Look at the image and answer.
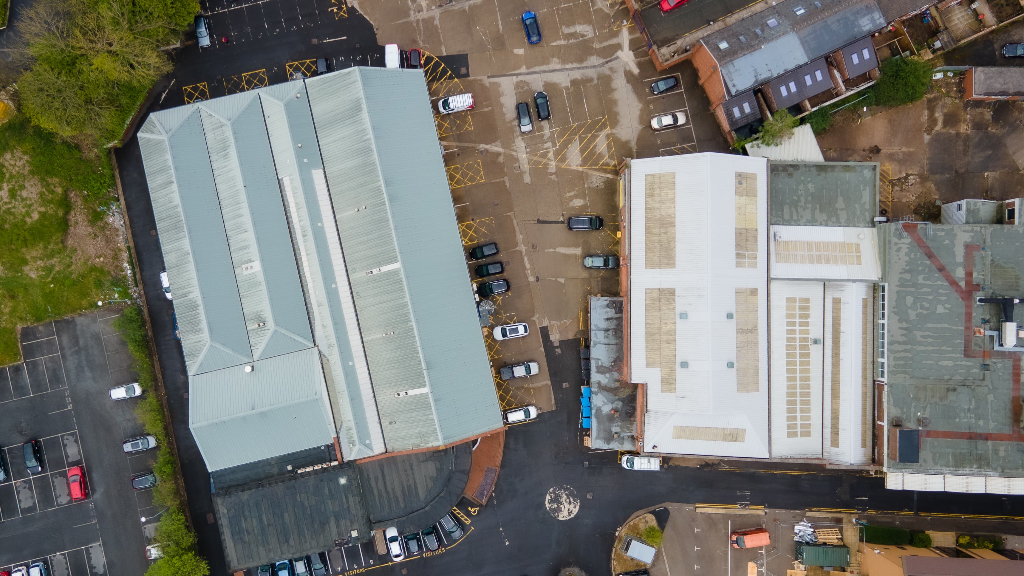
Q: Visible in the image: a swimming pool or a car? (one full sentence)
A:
The image shows a car.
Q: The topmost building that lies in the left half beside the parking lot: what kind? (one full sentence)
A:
In the photo, the topmost building that lies in the left half beside the parking lot shows up as a warehouse.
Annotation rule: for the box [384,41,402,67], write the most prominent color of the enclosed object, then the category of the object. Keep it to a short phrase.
white vehicle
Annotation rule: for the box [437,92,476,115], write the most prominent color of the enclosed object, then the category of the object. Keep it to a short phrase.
white vehicle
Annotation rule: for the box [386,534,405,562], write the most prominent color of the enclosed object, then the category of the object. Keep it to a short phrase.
white car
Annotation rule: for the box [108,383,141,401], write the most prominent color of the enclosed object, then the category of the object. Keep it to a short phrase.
white car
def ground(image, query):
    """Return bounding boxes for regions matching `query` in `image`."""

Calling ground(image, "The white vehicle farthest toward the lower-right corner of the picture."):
[621,454,661,472]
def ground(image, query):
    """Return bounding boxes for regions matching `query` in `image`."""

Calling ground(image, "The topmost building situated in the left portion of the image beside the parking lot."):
[135,66,508,473]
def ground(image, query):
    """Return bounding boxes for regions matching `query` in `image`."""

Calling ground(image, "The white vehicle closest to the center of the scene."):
[493,322,529,341]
